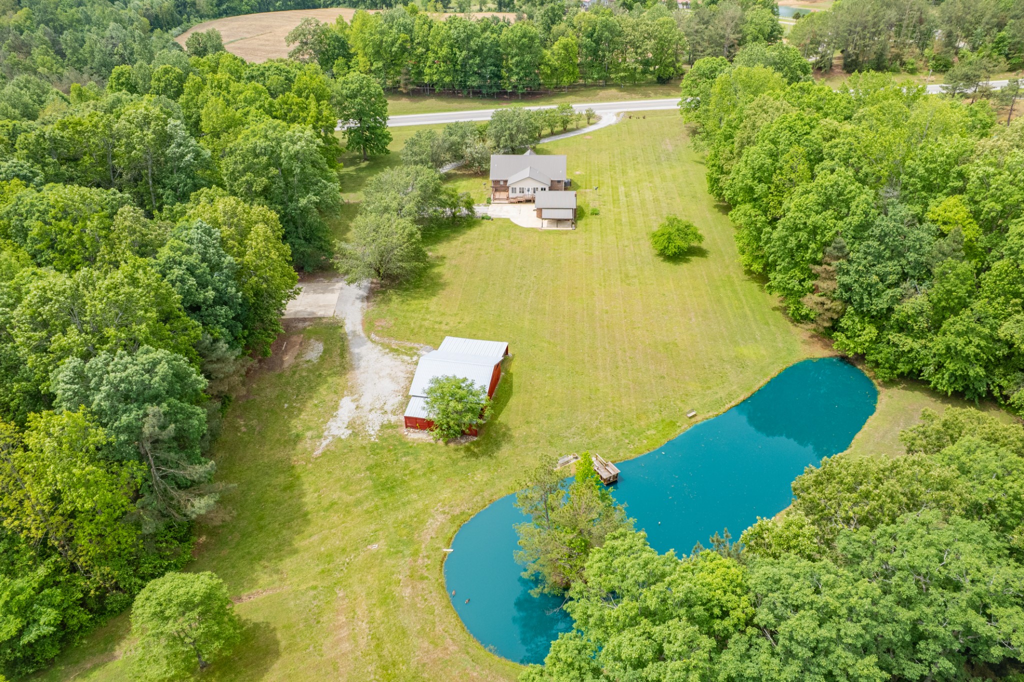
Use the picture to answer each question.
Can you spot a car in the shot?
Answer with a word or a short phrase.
No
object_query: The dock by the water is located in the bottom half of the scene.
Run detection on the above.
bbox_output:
[593,448,621,483]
